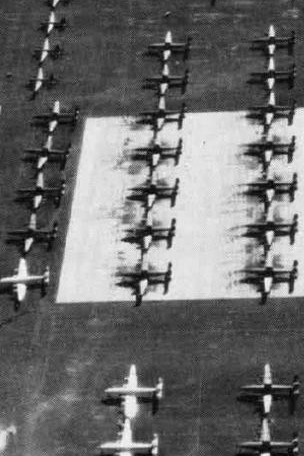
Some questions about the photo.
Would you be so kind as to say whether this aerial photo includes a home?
No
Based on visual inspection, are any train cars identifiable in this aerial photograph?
No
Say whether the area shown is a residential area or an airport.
airport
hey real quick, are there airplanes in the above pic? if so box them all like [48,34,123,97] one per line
[125,210,176,250]
[0,258,50,300]
[40,10,72,33]
[23,135,71,169]
[249,92,297,125]
[241,363,299,412]
[49,0,61,6]
[135,132,183,167]
[247,166,298,203]
[250,25,294,54]
[144,63,190,93]
[140,97,187,130]
[238,418,298,456]
[247,128,296,162]
[106,366,163,415]
[16,172,65,208]
[148,31,192,60]
[120,253,172,295]
[27,65,60,91]
[100,419,159,456]
[246,206,298,245]
[33,37,66,62]
[130,170,179,207]
[33,100,79,131]
[245,250,298,292]
[7,213,58,251]
[249,58,295,89]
